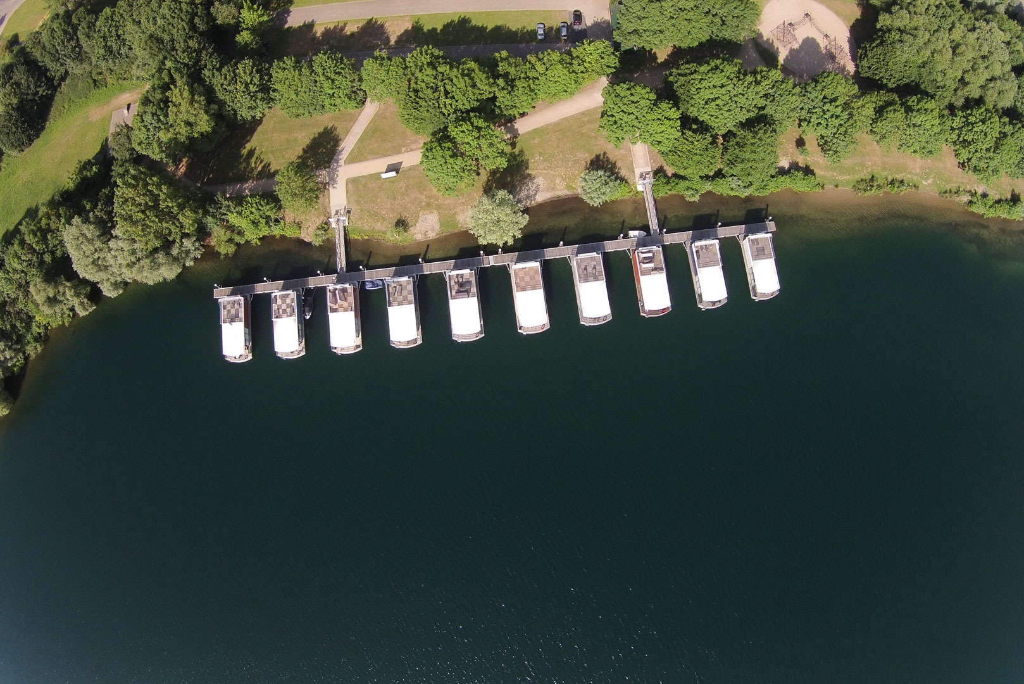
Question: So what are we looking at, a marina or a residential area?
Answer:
marina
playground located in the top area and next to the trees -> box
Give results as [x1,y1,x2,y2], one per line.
[759,0,854,81]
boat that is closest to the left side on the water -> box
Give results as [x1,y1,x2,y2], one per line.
[217,295,254,364]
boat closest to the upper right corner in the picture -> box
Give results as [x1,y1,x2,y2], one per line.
[739,233,781,302]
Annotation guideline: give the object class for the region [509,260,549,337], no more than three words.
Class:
boat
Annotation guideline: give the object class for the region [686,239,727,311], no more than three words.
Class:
boat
